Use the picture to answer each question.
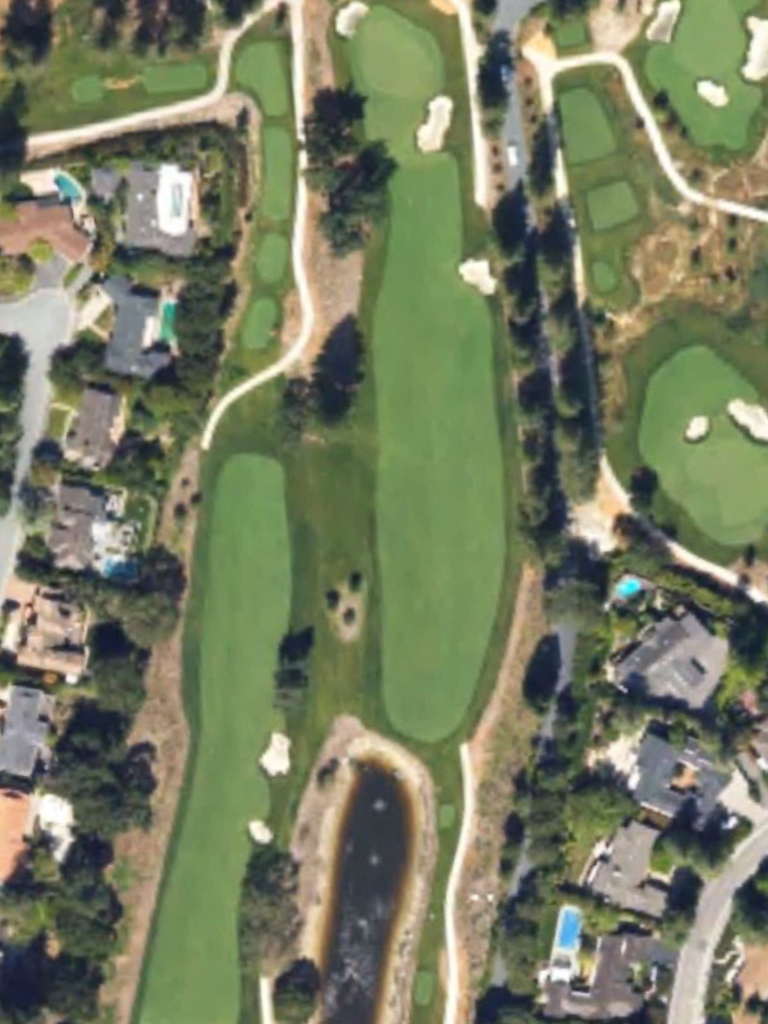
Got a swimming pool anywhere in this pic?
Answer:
Yes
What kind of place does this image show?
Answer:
golf course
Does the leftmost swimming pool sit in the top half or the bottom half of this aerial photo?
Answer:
top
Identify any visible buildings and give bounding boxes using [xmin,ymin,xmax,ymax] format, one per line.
[0,197,90,263]
[632,732,739,819]
[749,721,768,768]
[90,162,194,255]
[65,389,118,466]
[0,683,50,775]
[50,486,107,569]
[540,932,678,1019]
[0,788,29,885]
[16,585,89,677]
[101,269,170,379]
[611,610,735,705]
[598,817,667,917]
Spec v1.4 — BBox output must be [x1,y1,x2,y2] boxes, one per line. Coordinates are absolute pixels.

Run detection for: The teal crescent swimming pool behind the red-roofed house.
[53,174,83,202]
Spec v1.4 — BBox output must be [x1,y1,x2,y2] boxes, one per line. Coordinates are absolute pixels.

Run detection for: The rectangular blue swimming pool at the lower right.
[555,904,584,954]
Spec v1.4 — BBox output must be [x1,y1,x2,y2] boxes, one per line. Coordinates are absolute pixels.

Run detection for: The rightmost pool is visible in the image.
[615,576,643,599]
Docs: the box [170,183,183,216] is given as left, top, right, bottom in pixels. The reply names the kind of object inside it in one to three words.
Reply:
swimming pool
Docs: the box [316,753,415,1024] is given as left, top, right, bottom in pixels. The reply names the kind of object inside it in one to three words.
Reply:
pond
